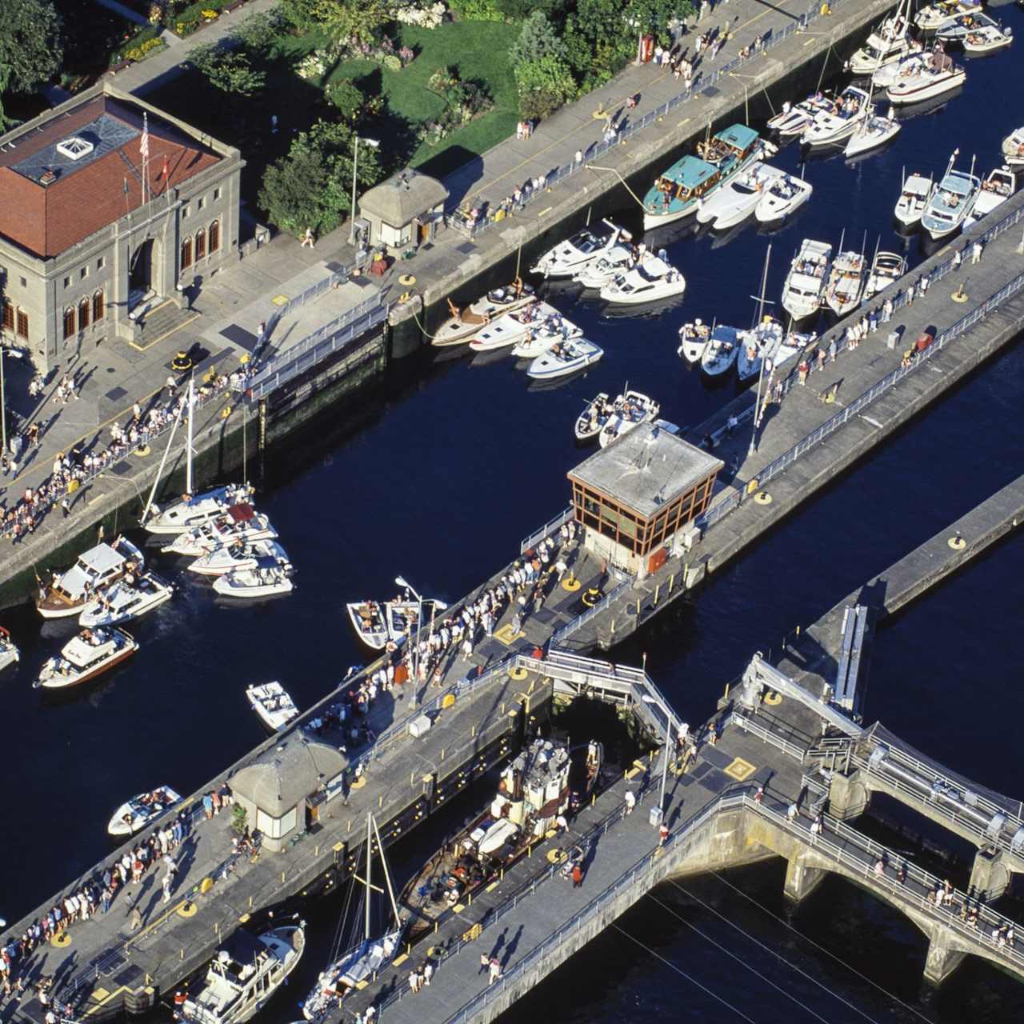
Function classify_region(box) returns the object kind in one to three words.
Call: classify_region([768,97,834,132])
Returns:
boat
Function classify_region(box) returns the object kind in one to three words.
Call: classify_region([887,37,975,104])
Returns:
boat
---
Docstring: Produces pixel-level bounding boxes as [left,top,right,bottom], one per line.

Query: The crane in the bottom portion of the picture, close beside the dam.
[738,650,868,750]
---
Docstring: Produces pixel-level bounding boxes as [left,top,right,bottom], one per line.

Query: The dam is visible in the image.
[825,739,1024,916]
